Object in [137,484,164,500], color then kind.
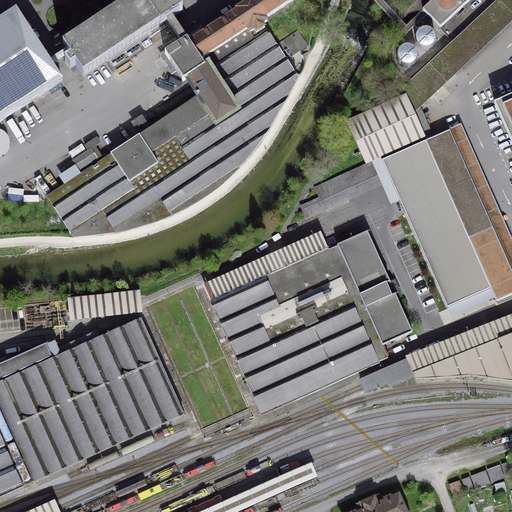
yellow rail car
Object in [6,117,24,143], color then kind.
white vehicle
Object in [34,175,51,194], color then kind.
white vehicle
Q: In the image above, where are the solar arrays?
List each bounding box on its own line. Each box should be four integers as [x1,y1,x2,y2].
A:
[0,51,46,110]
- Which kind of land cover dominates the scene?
buildings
